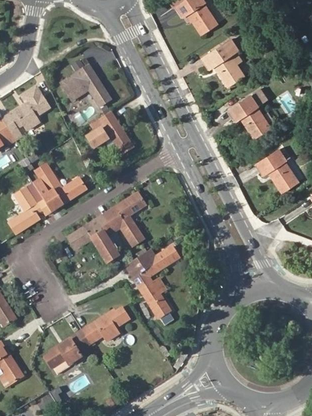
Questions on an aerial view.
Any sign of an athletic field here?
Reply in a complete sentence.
No, the photo shows no athletic field.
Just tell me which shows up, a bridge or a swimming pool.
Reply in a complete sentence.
I can see a swimming pool in this picture.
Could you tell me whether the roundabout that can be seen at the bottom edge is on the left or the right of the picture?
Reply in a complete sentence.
The roundabout that can be seen at the bottom edge sits on the right side.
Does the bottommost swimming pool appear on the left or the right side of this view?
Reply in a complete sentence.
You can find the bottommost swimming pool on the left side of the picture.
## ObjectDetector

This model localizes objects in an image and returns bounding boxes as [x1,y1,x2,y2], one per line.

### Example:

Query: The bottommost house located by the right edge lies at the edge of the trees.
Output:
[254,150,299,194]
